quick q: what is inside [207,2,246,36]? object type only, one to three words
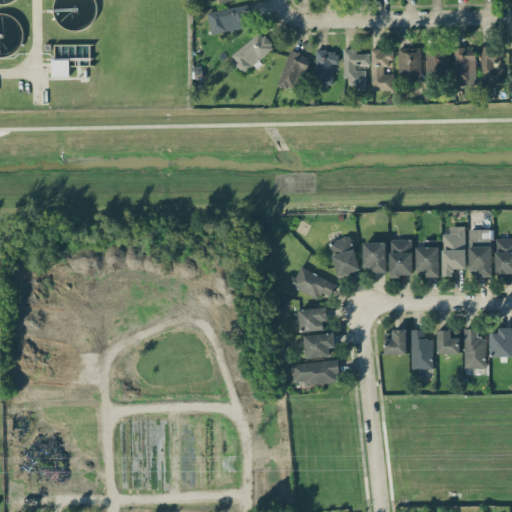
house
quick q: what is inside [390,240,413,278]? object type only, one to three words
house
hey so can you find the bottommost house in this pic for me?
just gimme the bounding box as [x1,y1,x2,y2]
[292,362,339,386]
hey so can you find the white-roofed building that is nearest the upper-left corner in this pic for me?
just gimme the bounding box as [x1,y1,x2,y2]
[50,59,69,77]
